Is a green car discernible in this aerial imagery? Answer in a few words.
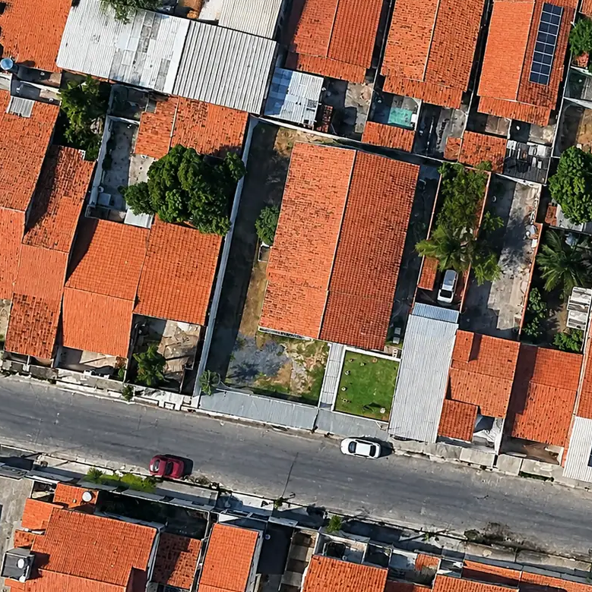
No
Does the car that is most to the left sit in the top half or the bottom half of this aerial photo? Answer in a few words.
bottom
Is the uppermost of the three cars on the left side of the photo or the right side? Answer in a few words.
right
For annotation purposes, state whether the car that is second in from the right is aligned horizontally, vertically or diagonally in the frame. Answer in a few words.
horizontally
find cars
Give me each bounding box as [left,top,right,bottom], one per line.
[342,438,382,458]
[149,457,186,477]
[435,266,458,306]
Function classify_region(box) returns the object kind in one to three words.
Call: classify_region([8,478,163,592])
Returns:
house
